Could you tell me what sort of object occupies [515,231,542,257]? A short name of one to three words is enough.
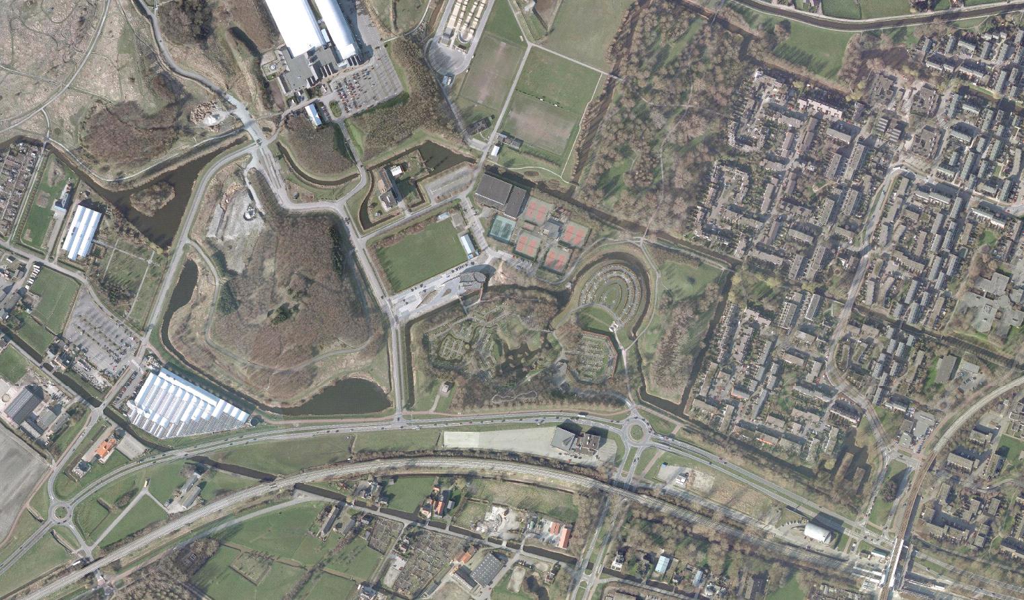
tennis court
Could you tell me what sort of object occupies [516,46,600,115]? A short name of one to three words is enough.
soccer field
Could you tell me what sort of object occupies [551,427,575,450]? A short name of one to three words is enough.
building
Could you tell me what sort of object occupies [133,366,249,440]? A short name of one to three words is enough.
greenhouse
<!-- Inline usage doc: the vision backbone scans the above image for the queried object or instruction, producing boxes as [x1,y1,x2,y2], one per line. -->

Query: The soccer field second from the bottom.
[504,93,577,154]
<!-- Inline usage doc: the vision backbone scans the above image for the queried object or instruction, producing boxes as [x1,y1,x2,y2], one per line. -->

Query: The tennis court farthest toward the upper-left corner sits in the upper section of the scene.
[488,215,516,243]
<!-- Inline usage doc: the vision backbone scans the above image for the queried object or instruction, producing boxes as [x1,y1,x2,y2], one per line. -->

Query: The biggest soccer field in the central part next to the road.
[372,217,475,292]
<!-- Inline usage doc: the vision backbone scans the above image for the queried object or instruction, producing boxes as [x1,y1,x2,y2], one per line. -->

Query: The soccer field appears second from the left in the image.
[462,33,524,110]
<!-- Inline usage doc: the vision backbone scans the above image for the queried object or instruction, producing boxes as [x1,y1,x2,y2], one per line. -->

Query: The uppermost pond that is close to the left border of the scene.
[0,137,251,250]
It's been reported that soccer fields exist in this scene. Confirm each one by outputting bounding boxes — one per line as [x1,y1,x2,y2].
[516,46,600,115]
[504,93,577,154]
[462,33,524,110]
[372,217,475,292]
